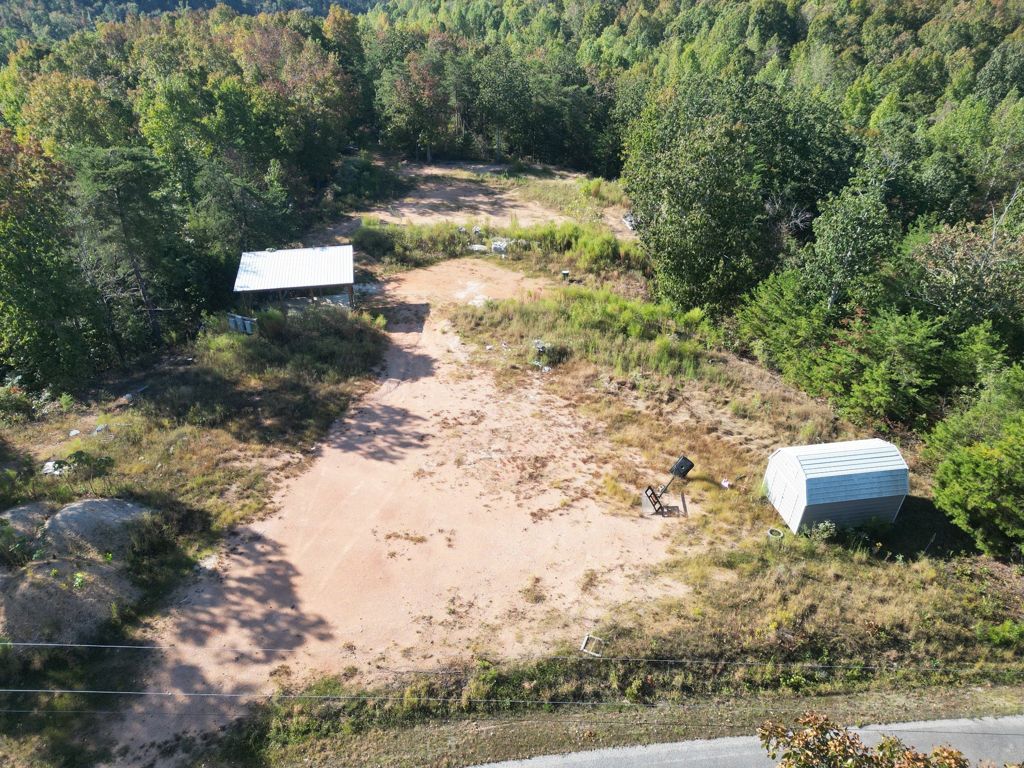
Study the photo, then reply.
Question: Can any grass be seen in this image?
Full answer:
Yes, there's grass in this view.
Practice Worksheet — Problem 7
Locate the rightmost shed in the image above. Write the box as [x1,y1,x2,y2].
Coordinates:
[762,434,912,535]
